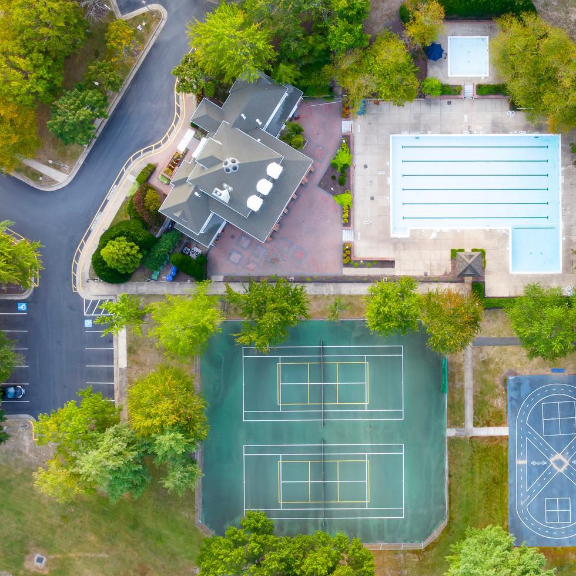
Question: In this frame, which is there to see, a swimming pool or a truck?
swimming pool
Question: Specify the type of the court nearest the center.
tennis court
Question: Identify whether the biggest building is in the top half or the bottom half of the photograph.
top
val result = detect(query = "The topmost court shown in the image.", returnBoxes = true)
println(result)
[242,340,404,428]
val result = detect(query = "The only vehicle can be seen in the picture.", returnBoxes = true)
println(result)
[0,384,26,401]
